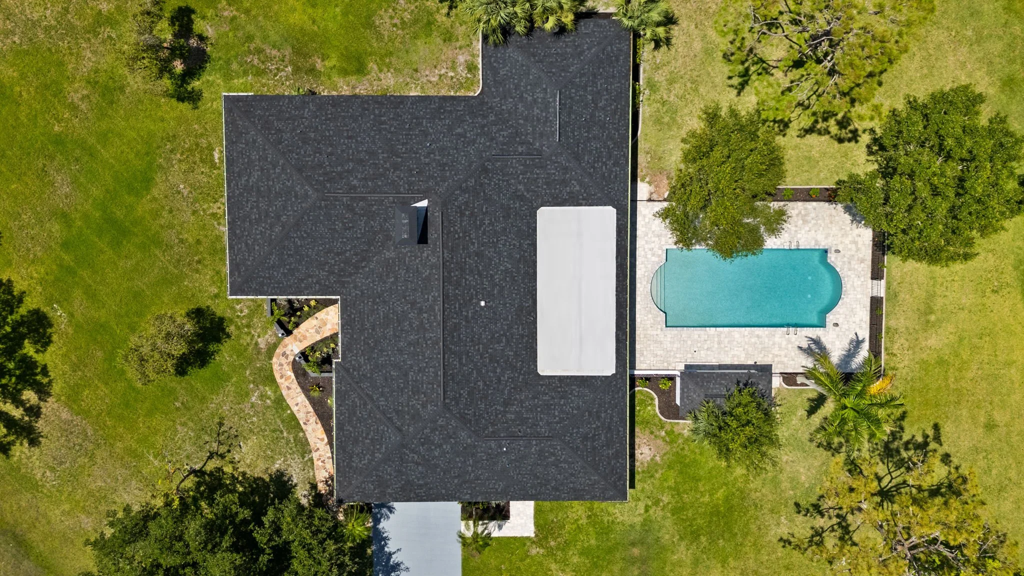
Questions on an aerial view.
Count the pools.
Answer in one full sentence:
Just 1 pool appears in this view.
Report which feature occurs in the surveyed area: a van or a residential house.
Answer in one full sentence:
It is a residential house that can be seen here.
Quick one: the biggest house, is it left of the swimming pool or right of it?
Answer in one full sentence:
Relative to the swimming pool, the biggest house is on the left.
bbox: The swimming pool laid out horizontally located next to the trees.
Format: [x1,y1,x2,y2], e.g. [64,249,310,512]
[644,242,850,335]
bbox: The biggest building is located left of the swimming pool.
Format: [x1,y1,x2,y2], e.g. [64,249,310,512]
[221,19,633,504]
